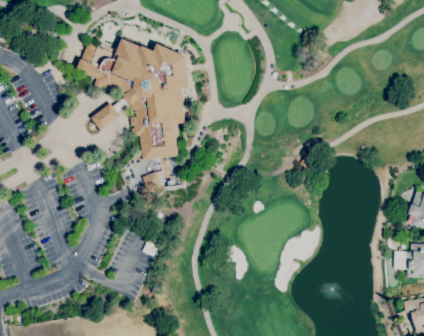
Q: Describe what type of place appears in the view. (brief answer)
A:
golf course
